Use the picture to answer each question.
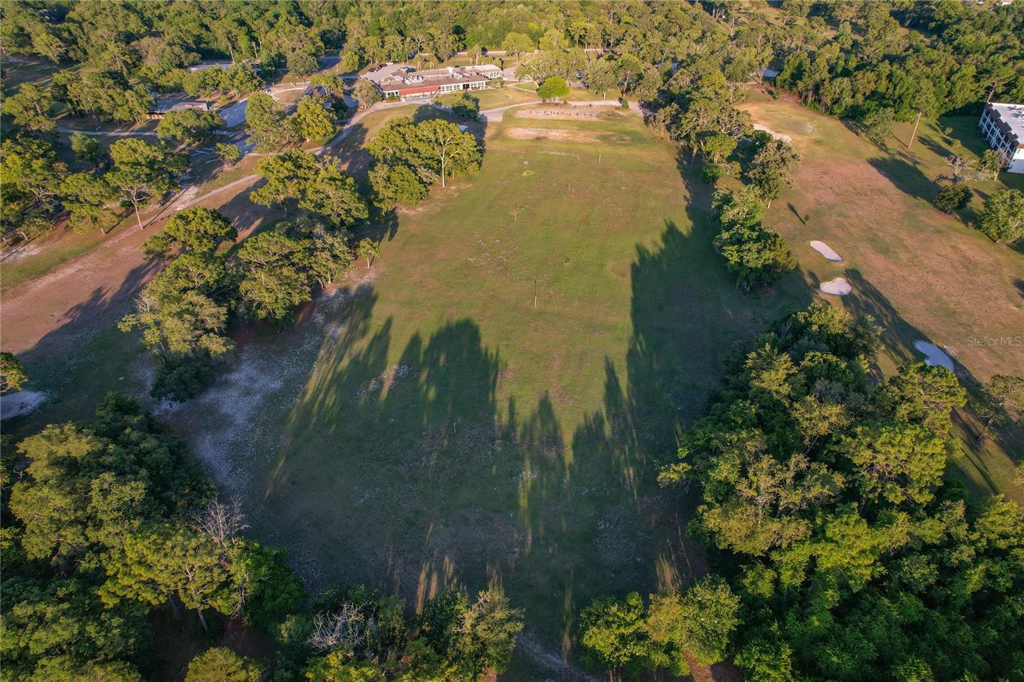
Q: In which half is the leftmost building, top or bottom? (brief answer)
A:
top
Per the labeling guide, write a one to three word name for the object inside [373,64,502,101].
building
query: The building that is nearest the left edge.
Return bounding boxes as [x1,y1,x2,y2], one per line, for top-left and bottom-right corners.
[145,93,206,116]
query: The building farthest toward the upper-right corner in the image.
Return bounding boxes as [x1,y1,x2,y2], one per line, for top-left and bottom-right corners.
[978,102,1024,181]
